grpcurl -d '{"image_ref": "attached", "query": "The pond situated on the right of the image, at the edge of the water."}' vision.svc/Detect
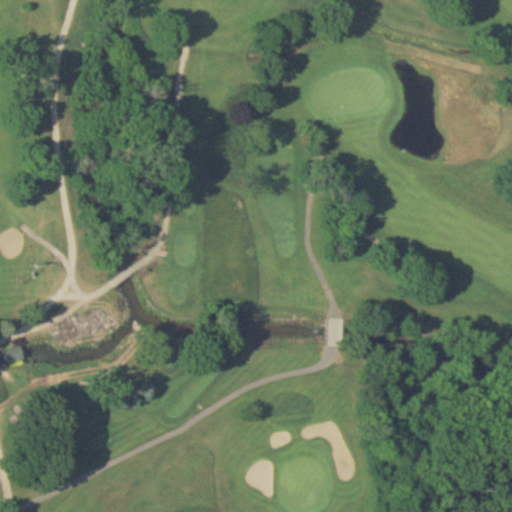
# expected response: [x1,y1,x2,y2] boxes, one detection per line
[390,60,443,158]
